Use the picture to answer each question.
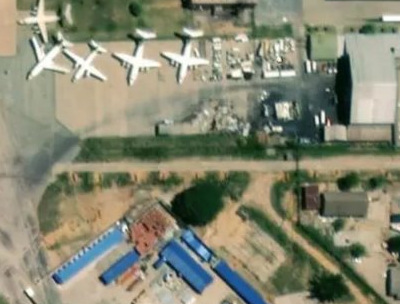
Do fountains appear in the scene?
No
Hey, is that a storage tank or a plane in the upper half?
plane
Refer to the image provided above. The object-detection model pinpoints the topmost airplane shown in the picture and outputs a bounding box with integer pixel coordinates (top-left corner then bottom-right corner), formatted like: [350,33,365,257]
[19,0,70,41]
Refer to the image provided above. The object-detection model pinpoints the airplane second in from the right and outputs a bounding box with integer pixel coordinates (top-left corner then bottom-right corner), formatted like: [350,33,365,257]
[116,31,163,83]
